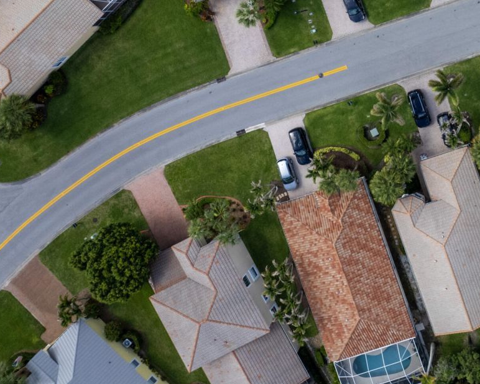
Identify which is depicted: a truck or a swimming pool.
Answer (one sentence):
The image shows a swimming pool.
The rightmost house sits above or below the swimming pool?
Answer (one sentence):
The rightmost house is located above the swimming pool in this view.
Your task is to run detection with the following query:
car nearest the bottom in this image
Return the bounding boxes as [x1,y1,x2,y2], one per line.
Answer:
[275,155,301,191]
